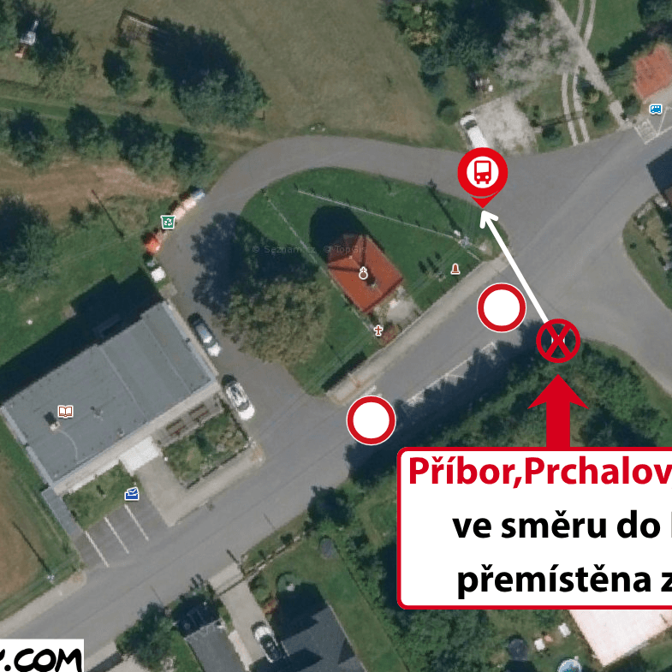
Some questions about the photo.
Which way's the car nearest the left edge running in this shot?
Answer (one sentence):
Seen from above, the car nearest the left edge lies on a diagonal.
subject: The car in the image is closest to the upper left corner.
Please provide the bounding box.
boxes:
[185,312,224,359]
